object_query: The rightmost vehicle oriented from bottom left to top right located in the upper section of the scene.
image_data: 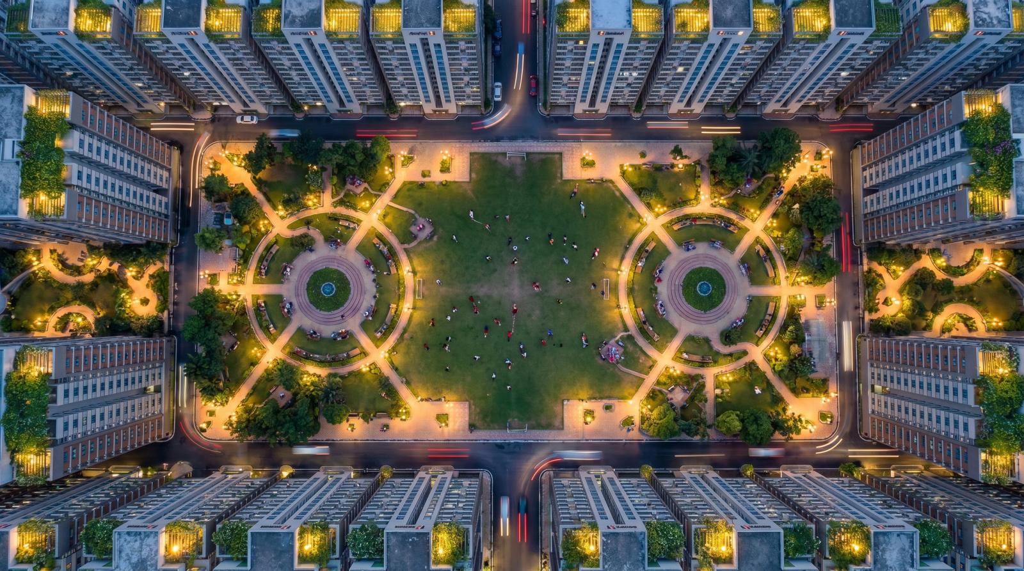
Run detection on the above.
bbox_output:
[492,106,511,127]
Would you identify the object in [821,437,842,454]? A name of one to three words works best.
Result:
car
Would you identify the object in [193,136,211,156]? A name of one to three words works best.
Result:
car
